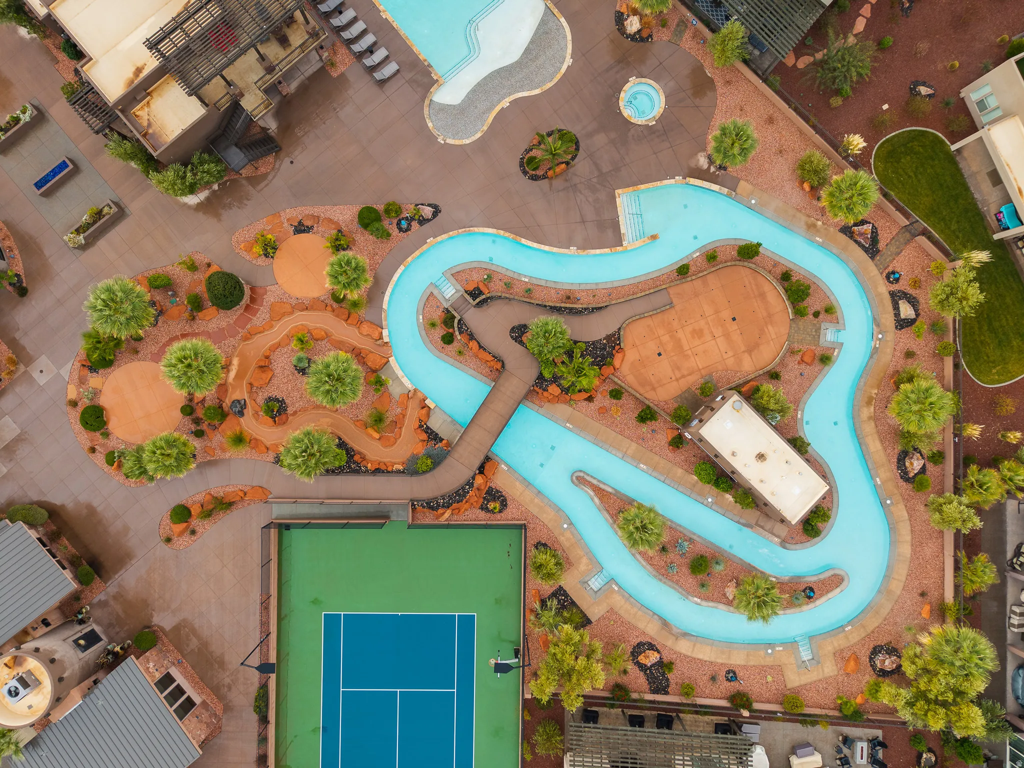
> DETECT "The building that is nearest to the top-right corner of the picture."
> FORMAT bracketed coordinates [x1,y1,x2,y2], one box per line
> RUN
[960,52,1024,145]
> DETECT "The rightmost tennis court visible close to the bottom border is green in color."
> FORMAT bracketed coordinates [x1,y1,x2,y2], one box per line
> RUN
[280,523,521,768]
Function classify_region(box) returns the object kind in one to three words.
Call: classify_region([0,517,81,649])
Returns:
building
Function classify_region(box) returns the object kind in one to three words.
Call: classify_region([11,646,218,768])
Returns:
building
